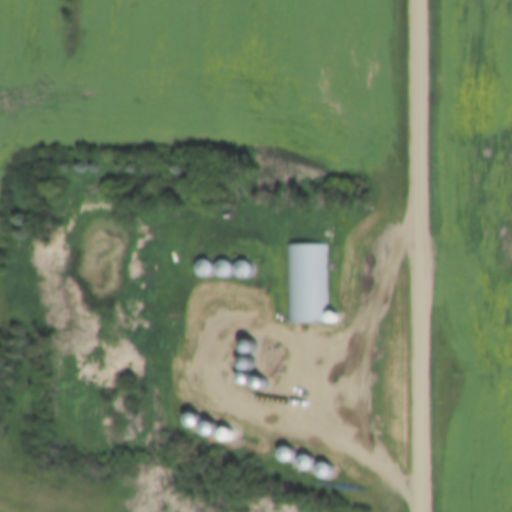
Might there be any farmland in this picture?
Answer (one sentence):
Yes, there is farmland in the image.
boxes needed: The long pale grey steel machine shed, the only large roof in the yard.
[290,244,330,323]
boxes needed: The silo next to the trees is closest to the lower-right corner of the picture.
[314,460,337,482]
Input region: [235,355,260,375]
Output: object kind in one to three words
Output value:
silo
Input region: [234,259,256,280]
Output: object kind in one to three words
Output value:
silo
